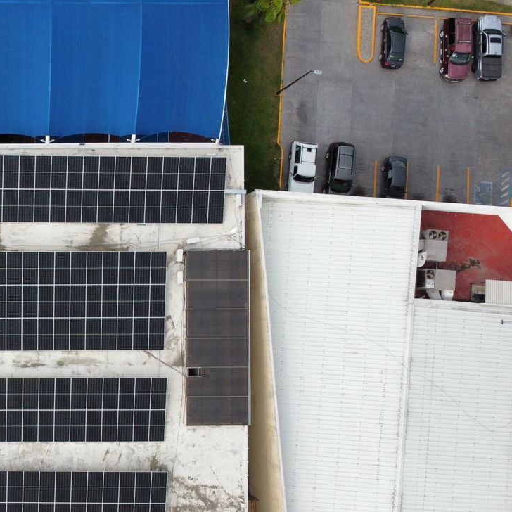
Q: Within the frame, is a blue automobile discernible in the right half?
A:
No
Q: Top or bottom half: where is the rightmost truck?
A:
top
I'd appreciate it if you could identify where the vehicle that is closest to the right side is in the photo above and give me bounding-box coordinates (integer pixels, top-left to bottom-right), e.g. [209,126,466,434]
[471,14,507,82]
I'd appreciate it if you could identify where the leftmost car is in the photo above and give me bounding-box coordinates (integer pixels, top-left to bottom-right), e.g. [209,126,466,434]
[287,140,318,194]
